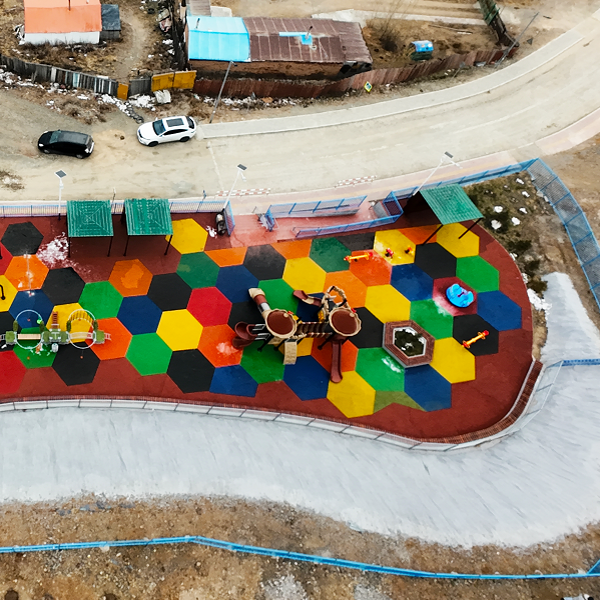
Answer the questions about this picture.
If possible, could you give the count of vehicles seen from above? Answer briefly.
2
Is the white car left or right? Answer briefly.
left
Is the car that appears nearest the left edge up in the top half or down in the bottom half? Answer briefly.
top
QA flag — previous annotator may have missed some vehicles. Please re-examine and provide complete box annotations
[39,132,94,161]
[139,118,196,150]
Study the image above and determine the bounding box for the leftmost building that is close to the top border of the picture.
[22,0,102,46]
